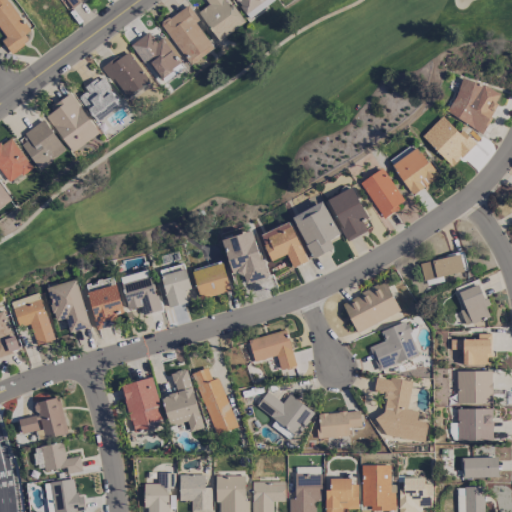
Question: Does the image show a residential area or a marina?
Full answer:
This image shows a residential area.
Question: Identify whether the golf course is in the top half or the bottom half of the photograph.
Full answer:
It is in the top half that the golf course appears.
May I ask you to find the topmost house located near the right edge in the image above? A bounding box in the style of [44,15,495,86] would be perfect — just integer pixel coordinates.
[450,77,504,133]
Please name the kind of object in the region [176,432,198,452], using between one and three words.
swimming pool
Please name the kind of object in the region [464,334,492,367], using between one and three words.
house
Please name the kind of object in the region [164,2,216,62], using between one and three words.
house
